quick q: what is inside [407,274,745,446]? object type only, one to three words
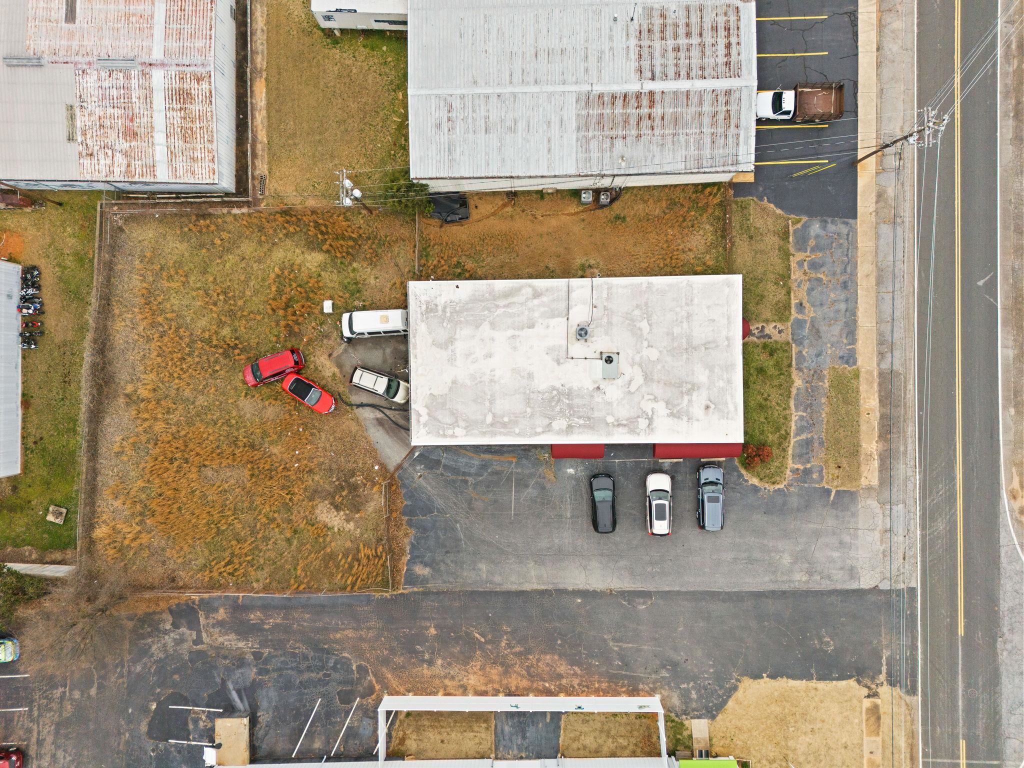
building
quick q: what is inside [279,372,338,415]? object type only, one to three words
car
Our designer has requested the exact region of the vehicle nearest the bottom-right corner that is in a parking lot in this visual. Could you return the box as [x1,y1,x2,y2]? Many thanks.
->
[694,464,728,532]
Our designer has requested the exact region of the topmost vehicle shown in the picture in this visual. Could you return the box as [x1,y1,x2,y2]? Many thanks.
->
[757,83,841,123]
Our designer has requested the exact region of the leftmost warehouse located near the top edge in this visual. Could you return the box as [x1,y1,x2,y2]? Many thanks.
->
[0,0,236,193]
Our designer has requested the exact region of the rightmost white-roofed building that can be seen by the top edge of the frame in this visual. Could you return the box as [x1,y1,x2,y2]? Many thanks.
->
[403,0,758,195]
